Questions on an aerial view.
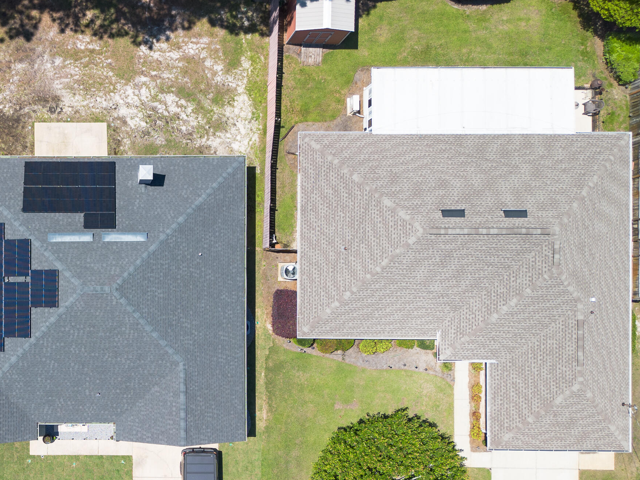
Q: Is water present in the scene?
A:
No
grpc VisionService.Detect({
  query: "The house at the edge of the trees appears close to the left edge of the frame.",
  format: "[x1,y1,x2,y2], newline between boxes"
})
[0,154,249,447]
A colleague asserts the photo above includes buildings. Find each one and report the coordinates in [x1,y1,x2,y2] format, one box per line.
[0,154,249,447]
[281,0,356,65]
[294,65,635,453]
